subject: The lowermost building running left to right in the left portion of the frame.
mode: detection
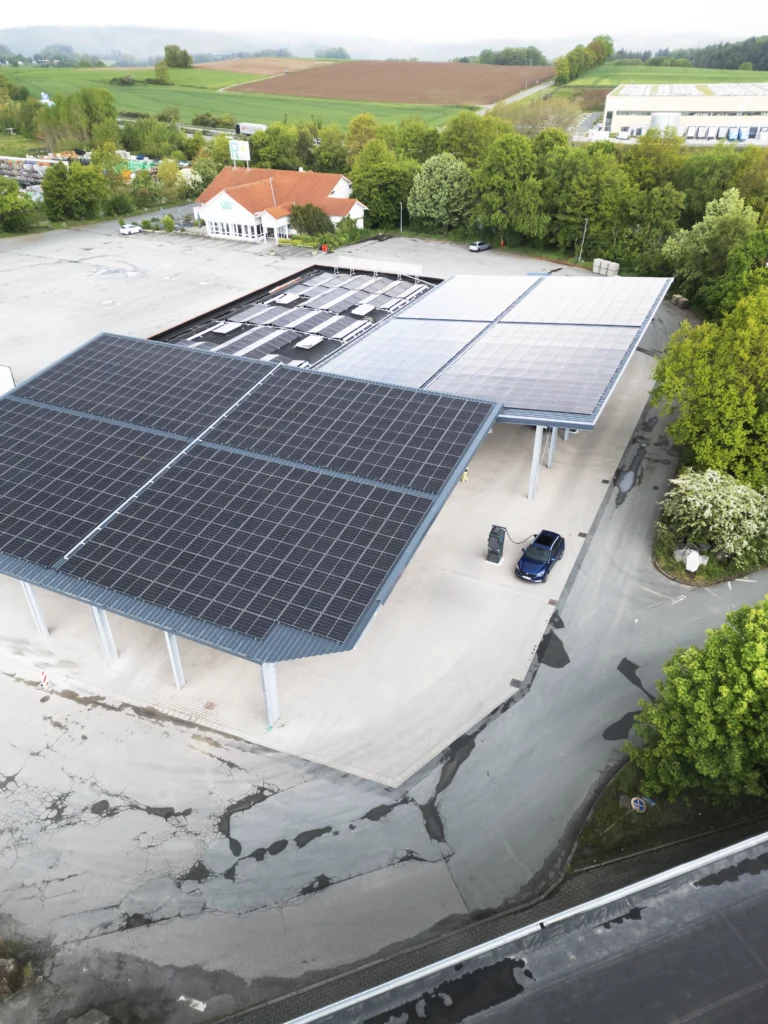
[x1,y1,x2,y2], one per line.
[155,265,441,371]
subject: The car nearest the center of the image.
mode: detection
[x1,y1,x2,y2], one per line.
[515,524,564,582]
